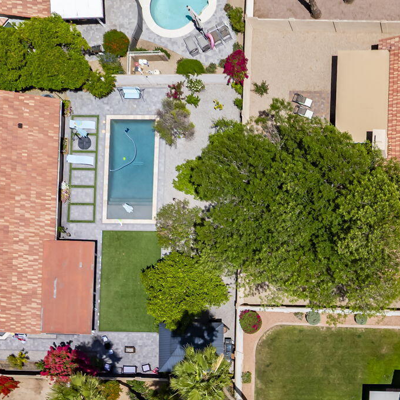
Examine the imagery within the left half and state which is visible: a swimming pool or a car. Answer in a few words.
swimming pool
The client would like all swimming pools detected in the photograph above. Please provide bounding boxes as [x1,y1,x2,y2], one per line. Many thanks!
[143,0,216,37]
[101,115,160,225]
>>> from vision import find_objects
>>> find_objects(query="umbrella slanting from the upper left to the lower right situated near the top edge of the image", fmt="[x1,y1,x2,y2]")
[187,7,213,41]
